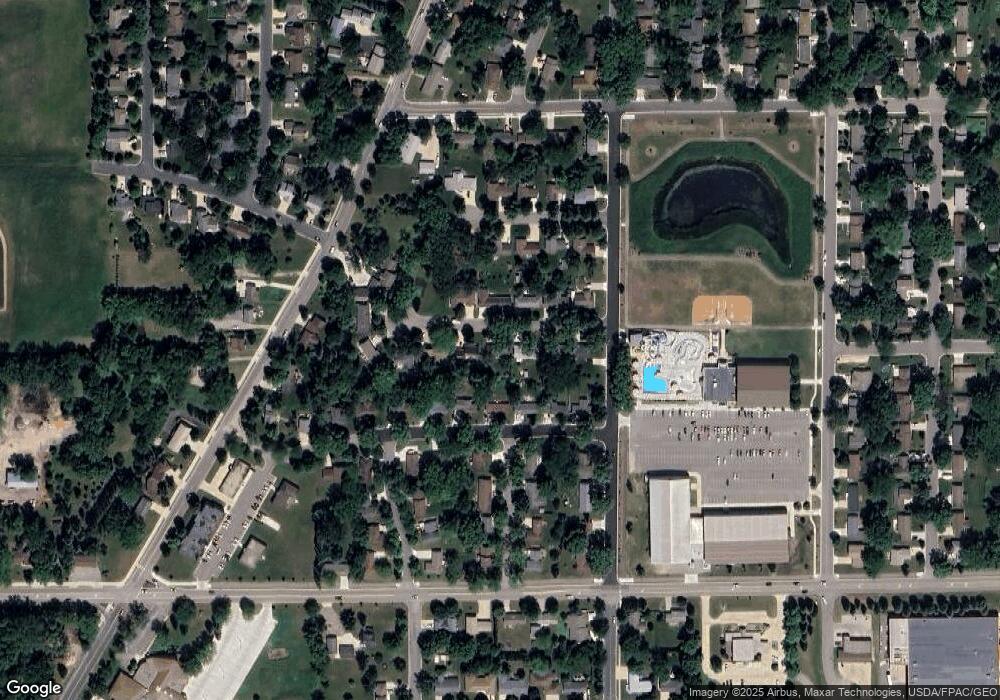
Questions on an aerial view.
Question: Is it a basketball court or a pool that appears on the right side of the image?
pool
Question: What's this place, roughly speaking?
residential area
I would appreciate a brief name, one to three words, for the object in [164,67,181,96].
house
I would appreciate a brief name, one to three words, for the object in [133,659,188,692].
building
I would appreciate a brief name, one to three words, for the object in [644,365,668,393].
swimming pool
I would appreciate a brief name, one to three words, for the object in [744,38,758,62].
house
